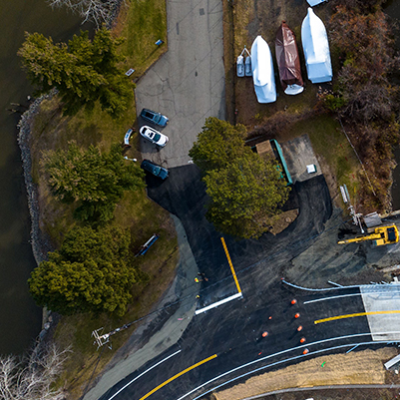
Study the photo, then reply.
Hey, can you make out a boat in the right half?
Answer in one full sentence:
Yes, there is a boat in the right half.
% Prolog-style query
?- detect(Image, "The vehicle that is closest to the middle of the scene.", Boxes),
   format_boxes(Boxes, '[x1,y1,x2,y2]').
[140,159,172,181]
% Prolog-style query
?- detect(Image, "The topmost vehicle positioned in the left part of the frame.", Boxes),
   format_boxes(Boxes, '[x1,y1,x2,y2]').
[139,108,171,127]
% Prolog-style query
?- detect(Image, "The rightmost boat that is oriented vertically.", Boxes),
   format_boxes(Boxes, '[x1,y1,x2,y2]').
[301,6,335,85]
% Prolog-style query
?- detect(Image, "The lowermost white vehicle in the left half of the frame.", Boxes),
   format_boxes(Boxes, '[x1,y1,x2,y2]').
[139,124,171,146]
